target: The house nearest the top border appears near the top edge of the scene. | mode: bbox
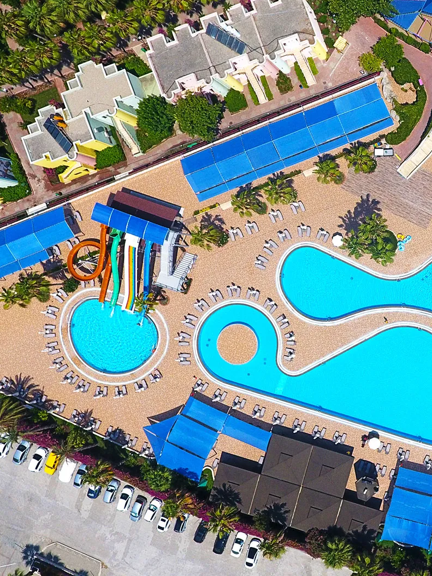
[144,0,326,105]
